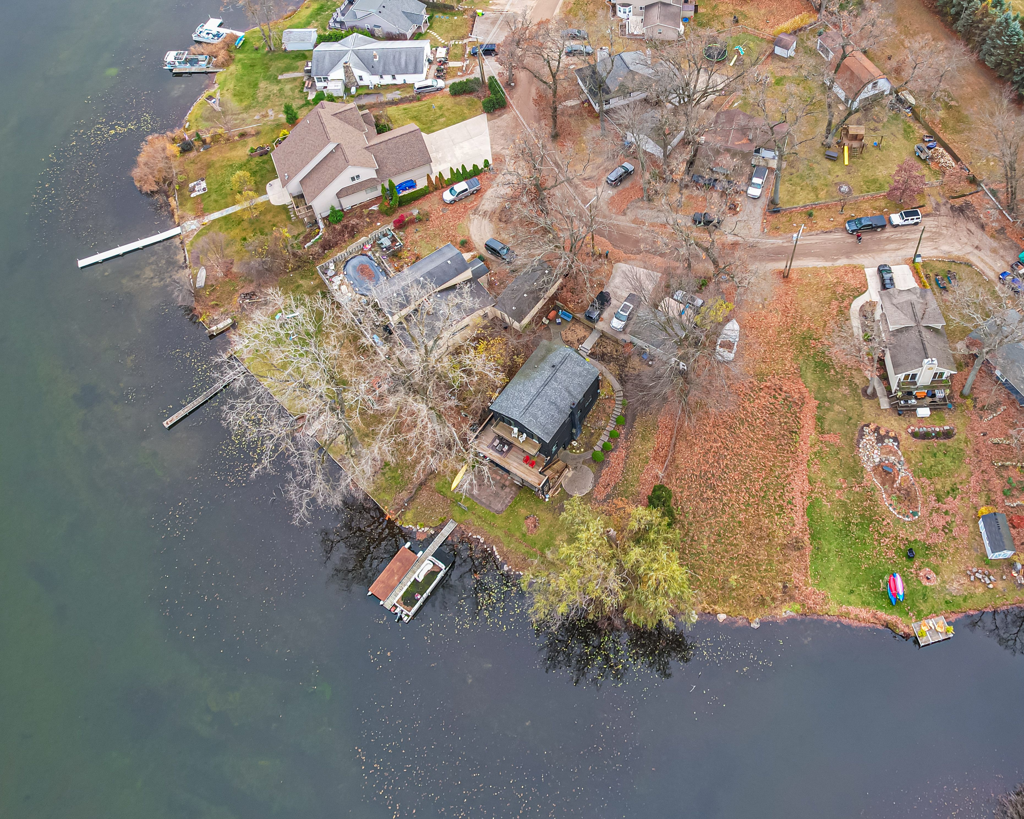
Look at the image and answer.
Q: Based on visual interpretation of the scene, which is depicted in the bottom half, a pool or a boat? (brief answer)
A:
boat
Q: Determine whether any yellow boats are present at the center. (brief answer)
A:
Yes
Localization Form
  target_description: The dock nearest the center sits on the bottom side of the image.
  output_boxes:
[383,519,458,611]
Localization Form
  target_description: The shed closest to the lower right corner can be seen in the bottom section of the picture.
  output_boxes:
[974,510,1017,562]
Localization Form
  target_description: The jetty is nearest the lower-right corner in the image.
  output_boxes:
[911,616,954,648]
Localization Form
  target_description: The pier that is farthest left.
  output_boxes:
[77,226,182,270]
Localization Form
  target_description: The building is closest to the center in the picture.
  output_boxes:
[470,345,608,499]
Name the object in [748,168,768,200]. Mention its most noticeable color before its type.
white vehicle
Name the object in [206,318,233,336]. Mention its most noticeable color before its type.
white boat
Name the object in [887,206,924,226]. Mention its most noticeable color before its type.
white car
